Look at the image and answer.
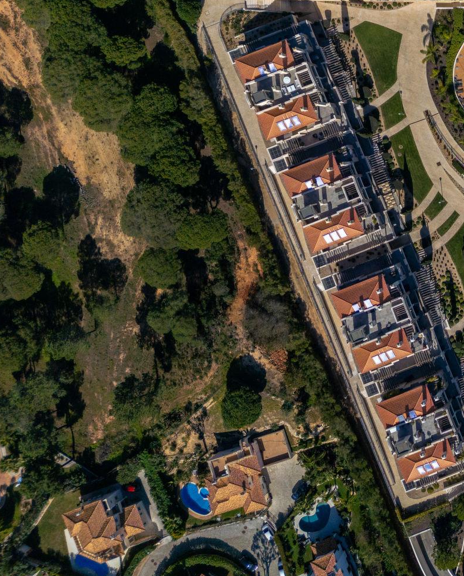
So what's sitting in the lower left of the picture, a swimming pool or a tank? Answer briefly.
swimming pool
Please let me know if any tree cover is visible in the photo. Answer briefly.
Yes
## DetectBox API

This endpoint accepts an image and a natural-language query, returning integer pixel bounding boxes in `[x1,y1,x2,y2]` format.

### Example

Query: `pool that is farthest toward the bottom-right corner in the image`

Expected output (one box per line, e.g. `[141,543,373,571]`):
[298,502,332,534]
